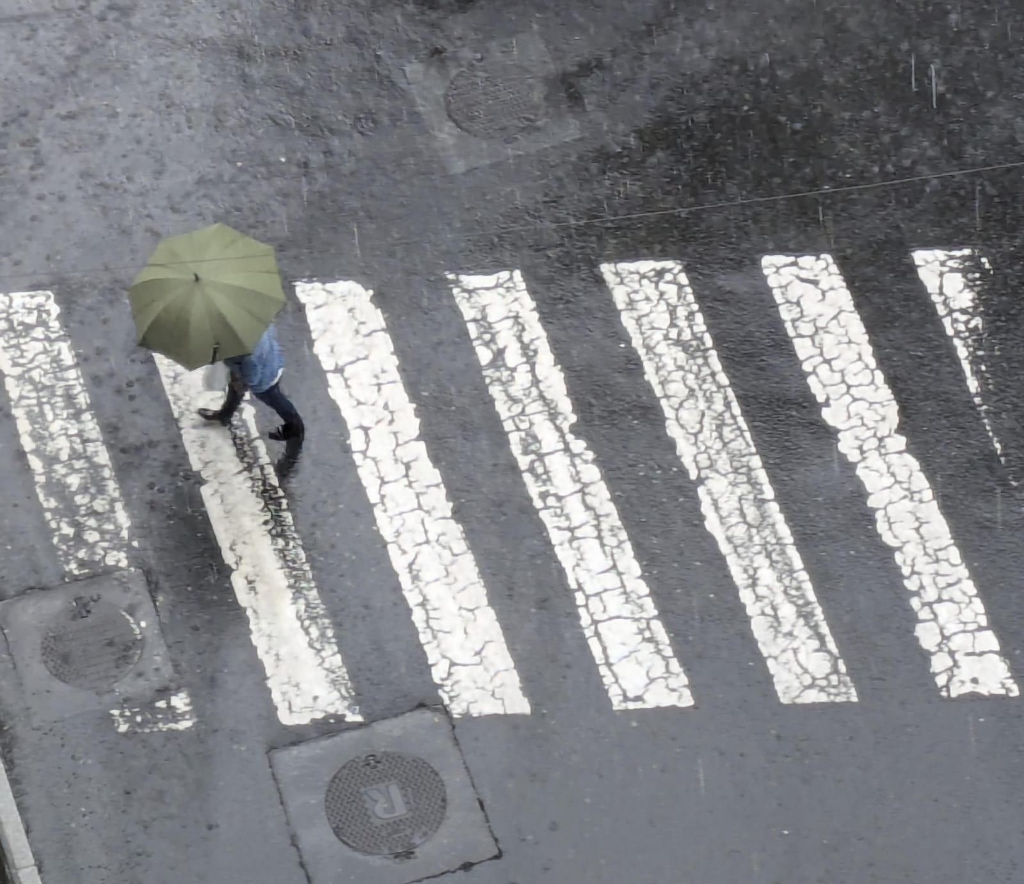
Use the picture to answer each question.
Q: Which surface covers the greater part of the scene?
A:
paved ground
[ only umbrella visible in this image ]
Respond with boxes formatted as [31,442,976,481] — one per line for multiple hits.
[128,220,288,376]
